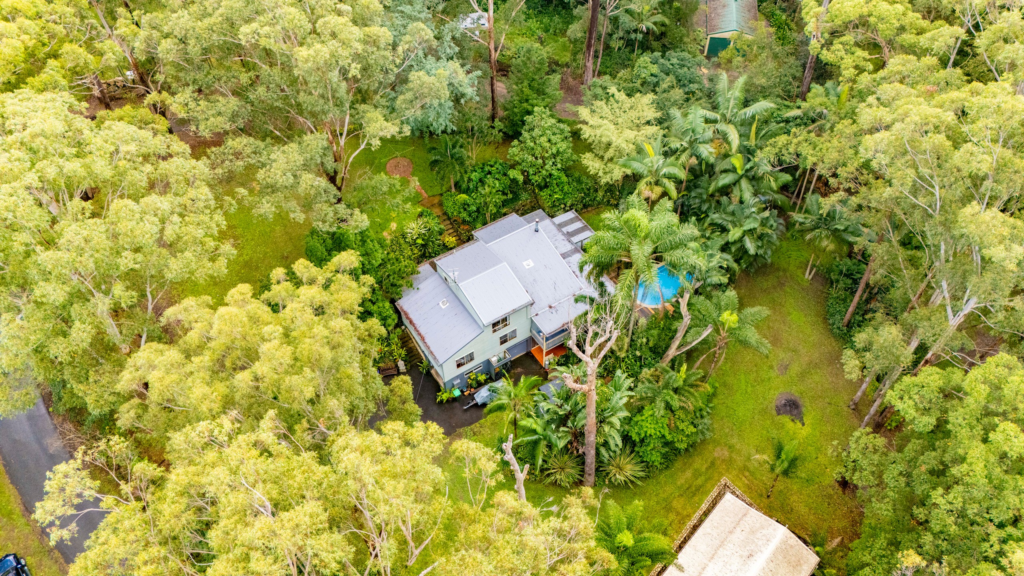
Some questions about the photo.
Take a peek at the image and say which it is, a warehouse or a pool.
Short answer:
pool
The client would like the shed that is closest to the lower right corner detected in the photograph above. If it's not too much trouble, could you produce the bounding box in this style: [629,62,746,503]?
[658,492,819,576]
